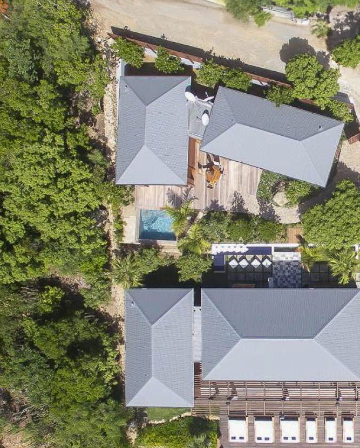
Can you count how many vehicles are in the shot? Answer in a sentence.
Not a single vehicle can be seen.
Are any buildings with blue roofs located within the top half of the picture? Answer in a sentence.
No, the scene shows no building with a blue roof within the top half of the picture.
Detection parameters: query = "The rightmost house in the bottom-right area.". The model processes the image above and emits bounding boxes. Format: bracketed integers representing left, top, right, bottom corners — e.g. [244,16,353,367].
[201,287,360,381]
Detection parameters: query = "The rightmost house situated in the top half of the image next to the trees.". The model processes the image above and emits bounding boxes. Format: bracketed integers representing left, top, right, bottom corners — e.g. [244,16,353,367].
[200,86,344,187]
